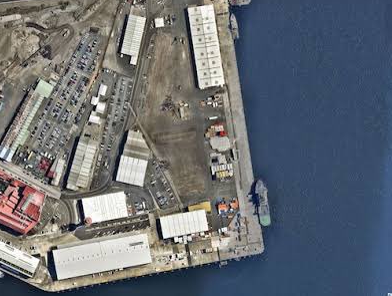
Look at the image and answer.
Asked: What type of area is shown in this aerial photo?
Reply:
port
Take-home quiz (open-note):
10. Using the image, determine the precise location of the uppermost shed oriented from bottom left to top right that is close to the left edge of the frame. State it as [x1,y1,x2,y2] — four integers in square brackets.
[2,85,51,152]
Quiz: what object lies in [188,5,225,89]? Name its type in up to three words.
shed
